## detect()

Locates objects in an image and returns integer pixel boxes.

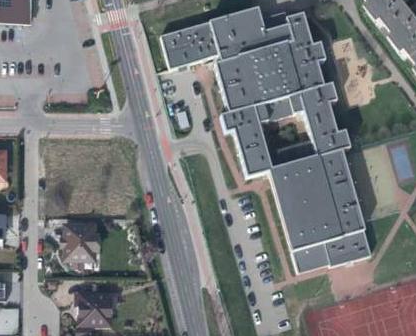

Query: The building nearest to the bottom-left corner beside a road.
[0,307,19,336]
